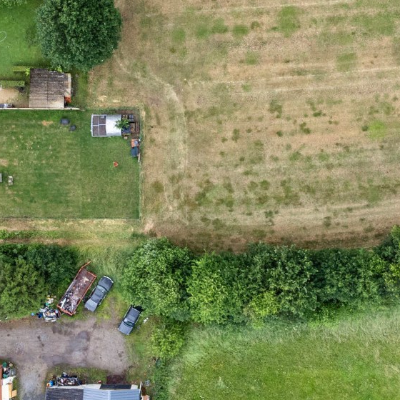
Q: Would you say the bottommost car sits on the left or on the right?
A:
left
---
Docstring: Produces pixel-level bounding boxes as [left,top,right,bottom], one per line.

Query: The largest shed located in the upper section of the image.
[29,68,71,107]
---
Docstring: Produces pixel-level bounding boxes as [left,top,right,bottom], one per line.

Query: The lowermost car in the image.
[119,303,141,334]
